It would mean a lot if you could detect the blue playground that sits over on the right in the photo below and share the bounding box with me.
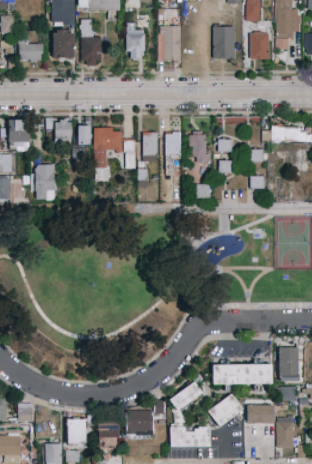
[201,235,244,266]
